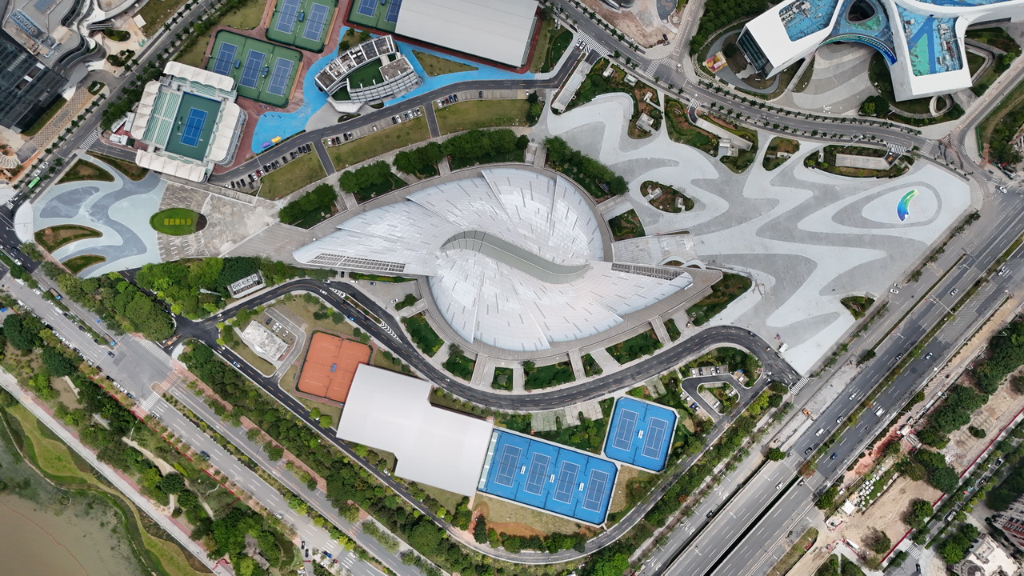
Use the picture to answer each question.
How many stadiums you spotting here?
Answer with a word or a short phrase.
2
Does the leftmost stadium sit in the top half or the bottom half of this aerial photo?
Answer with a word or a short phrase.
top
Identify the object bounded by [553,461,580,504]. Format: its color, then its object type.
blue tennis court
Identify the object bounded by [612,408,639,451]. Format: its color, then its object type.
blue tennis court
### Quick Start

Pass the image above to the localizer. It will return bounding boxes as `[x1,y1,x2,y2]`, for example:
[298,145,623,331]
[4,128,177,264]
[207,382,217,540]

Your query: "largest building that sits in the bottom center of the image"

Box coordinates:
[336,361,494,497]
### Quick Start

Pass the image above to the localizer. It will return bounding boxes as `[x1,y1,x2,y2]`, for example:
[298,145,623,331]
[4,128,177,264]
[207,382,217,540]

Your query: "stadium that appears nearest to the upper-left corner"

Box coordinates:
[128,63,249,183]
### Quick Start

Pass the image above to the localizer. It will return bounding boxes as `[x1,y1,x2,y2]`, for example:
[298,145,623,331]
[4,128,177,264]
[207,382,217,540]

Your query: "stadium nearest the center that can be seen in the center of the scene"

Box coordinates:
[217,161,724,365]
